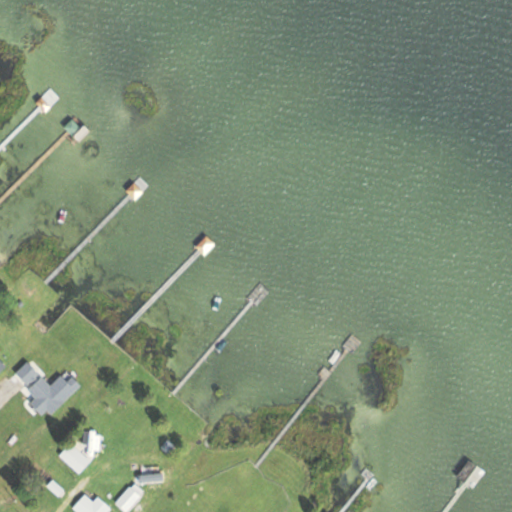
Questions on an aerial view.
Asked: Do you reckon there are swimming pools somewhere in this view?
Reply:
No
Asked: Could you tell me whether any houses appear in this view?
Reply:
Yes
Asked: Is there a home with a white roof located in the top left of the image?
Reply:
No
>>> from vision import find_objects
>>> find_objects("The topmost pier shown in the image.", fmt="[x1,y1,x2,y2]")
[0,89,59,154]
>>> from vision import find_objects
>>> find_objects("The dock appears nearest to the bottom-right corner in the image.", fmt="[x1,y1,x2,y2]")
[442,461,486,512]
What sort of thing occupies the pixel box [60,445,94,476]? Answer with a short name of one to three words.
building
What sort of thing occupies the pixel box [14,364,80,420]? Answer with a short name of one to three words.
house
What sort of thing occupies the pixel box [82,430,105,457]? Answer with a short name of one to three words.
house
